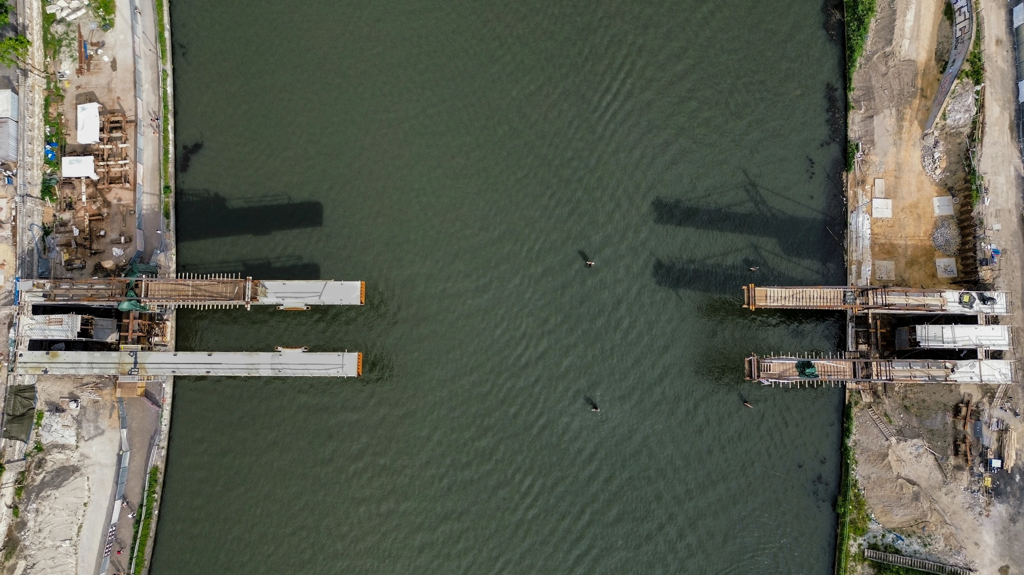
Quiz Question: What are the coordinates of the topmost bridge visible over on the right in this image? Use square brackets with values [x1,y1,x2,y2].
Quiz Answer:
[741,284,1014,315]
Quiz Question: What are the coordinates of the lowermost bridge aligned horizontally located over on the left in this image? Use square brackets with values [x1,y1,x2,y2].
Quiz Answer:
[18,347,363,377]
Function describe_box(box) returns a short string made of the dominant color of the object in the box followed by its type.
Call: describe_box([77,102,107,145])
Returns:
white tent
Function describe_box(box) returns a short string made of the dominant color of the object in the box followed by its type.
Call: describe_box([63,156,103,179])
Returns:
white tent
